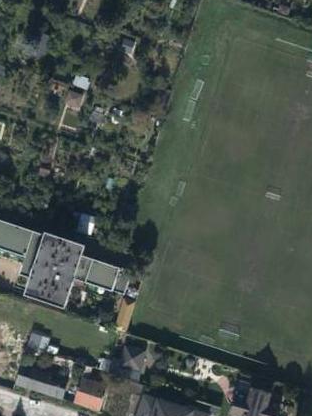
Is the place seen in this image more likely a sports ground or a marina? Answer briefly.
sports ground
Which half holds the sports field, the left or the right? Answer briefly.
right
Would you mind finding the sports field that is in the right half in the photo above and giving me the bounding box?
[134,0,312,388]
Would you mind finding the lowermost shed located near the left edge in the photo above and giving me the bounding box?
[15,374,66,402]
